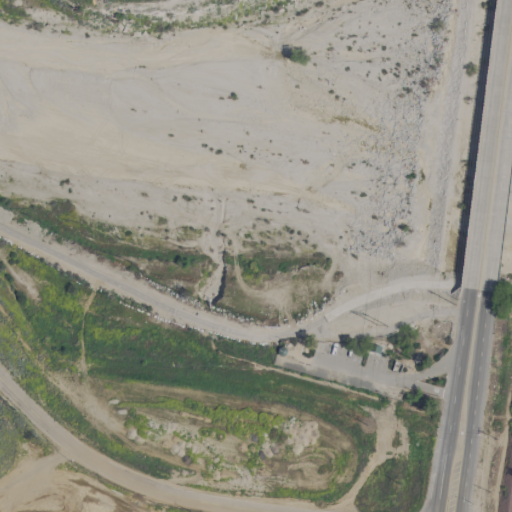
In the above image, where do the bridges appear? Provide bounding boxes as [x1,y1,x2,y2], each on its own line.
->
[462,0,512,292]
